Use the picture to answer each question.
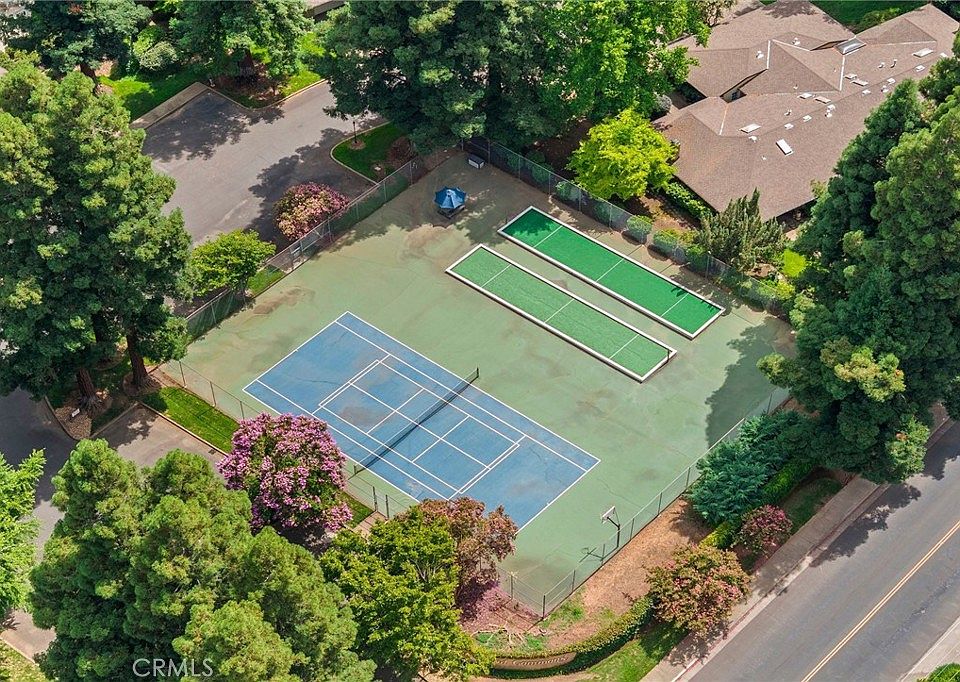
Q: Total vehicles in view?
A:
0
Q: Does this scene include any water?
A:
No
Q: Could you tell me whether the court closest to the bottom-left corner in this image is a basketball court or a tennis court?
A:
tennis court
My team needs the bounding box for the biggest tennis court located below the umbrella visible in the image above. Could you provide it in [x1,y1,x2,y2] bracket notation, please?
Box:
[243,311,600,553]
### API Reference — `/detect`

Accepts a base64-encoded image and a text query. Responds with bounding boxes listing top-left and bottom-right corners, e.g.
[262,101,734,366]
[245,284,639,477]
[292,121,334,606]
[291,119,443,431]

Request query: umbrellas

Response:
[433,187,466,207]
